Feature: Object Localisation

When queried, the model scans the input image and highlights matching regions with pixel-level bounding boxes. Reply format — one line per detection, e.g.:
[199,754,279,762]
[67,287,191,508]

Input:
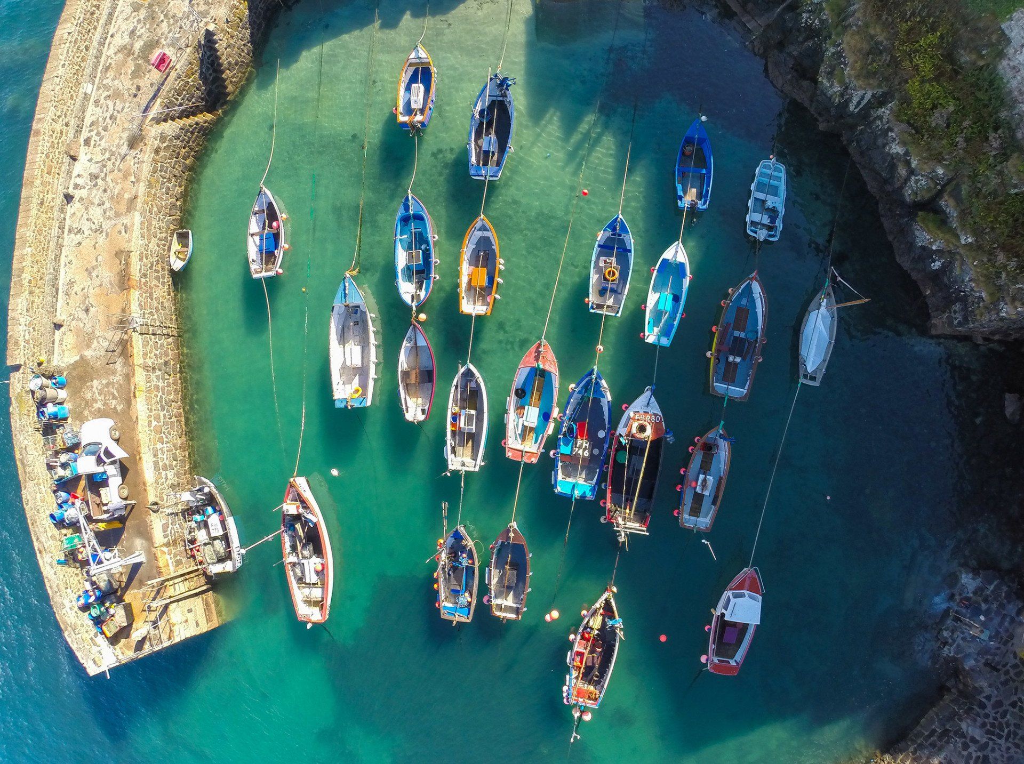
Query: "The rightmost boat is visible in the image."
[794,265,871,385]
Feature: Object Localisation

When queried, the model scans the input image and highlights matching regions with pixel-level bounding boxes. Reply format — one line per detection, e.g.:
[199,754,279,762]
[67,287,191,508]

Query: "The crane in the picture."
[71,490,155,584]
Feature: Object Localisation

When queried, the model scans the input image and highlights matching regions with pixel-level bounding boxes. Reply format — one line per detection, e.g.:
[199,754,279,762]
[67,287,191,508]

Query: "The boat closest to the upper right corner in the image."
[745,159,788,244]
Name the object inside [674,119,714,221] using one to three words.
boat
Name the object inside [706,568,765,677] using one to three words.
boat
